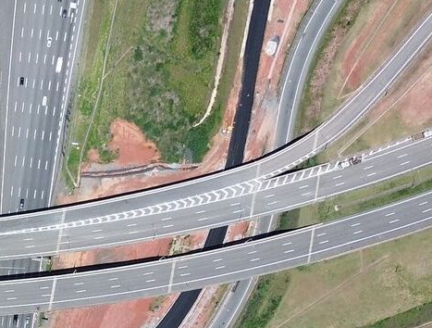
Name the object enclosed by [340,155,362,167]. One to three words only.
vehicle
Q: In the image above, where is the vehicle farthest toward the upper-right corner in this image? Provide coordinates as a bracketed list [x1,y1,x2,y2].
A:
[411,128,432,141]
